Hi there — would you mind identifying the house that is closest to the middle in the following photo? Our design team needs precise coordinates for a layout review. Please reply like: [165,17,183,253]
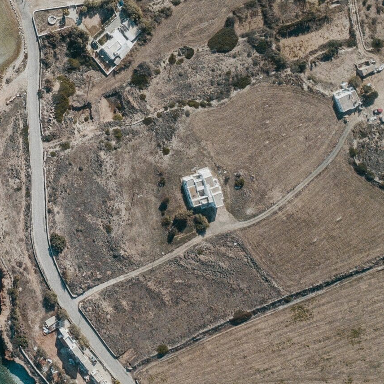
[177,164,225,208]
